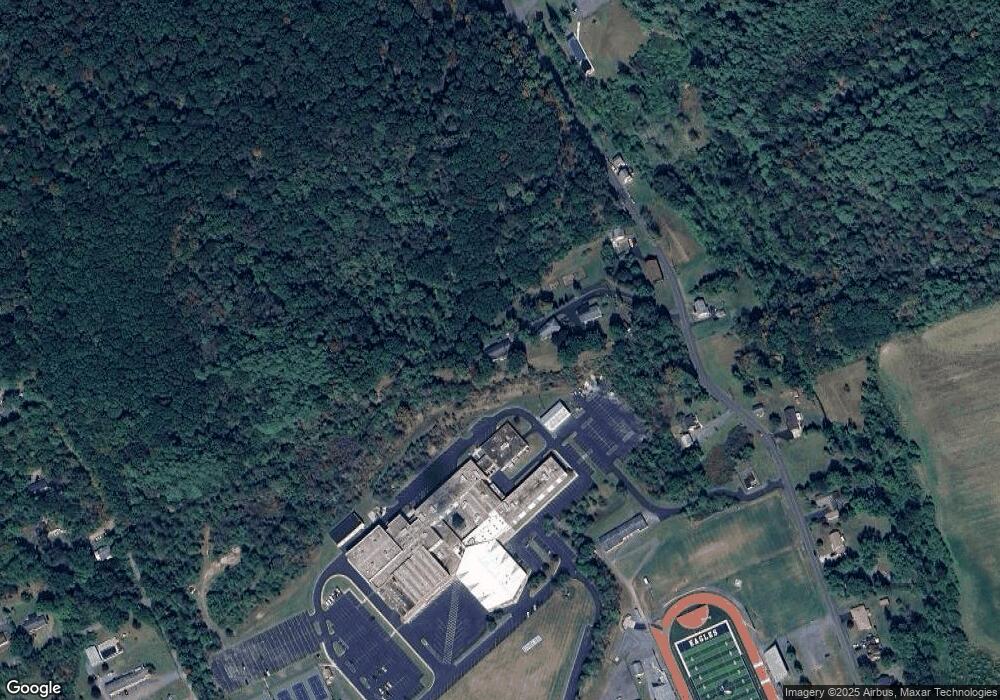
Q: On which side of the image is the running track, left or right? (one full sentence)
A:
The running track sits on the right side.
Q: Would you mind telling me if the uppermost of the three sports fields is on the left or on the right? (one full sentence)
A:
The uppermost of the three sports fields sits on the right side.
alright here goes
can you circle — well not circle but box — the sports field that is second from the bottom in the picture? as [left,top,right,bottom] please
[717,543,826,639]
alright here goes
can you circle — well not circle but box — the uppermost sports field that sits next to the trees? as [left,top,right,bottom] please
[636,491,798,590]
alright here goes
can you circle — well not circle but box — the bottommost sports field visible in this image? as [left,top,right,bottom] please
[669,603,767,700]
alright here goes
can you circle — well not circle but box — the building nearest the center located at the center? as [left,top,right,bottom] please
[484,338,511,362]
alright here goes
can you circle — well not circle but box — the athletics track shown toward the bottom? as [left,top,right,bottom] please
[657,592,779,700]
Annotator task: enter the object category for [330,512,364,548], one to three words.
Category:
shed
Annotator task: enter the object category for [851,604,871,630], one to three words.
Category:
house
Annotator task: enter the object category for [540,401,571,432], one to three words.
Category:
building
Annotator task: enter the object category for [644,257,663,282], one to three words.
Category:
house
